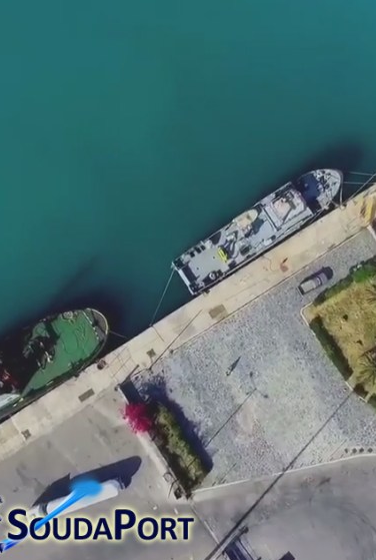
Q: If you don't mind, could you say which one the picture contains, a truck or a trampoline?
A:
truck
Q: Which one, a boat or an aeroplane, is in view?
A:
boat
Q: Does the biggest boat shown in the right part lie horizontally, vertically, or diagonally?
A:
diagonally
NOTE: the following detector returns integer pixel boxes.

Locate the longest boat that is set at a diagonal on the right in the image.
[171,165,343,295]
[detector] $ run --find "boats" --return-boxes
[0,306,113,424]
[171,165,343,295]
[231,209,257,227]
